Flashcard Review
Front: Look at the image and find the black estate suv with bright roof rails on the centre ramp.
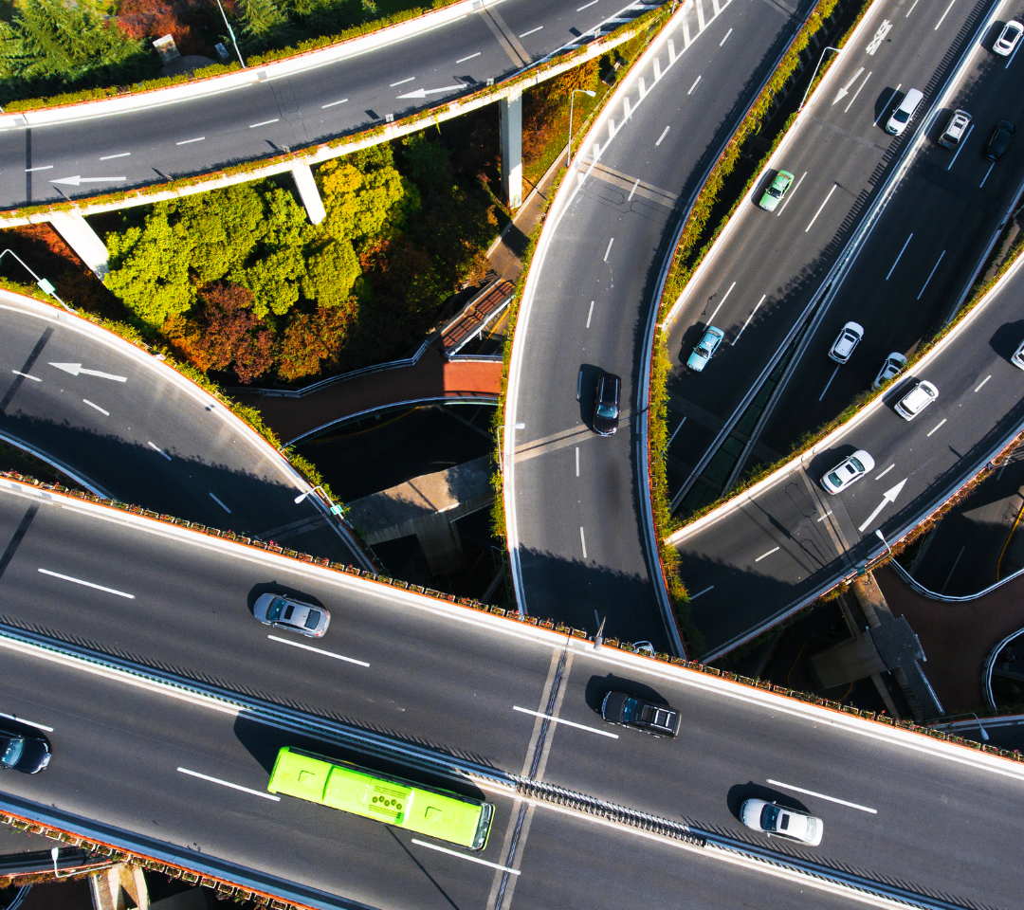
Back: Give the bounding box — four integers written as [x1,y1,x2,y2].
[590,374,623,440]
